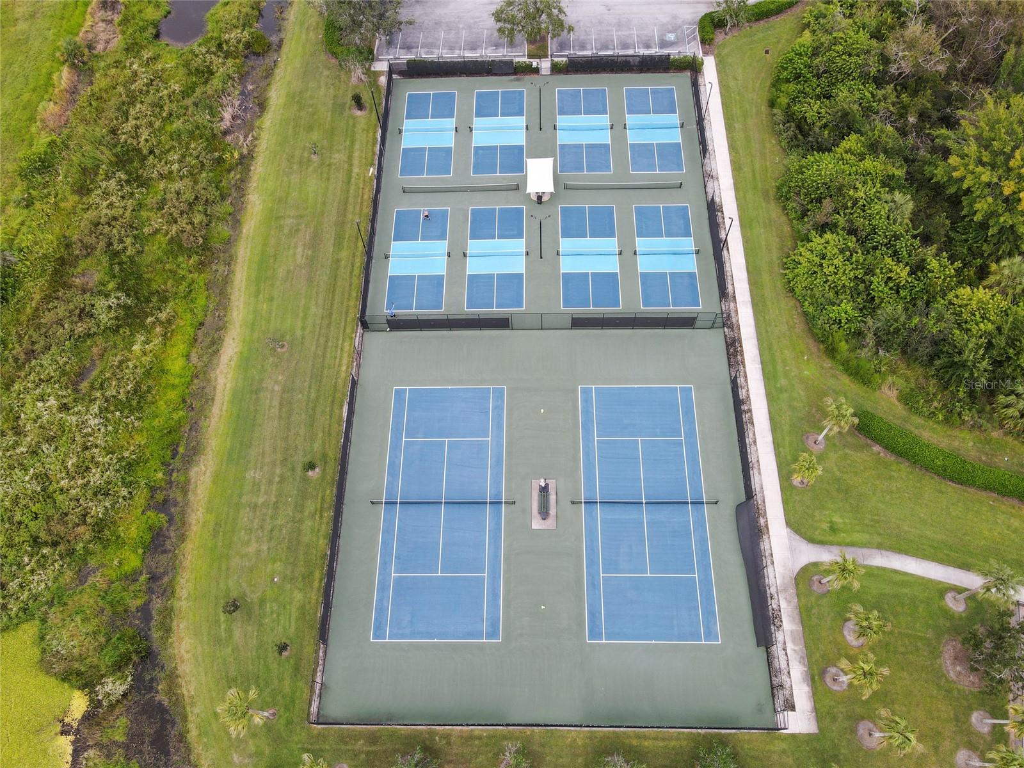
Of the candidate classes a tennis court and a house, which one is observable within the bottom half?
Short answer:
tennis court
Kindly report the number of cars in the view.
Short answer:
zero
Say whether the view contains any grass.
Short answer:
Yes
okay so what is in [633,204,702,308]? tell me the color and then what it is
blue sports court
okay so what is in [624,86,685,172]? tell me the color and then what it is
blue sports court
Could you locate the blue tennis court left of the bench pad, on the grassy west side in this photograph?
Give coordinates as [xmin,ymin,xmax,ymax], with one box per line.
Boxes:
[370,386,506,642]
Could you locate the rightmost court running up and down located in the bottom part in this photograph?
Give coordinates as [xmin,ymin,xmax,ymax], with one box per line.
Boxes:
[579,385,721,643]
